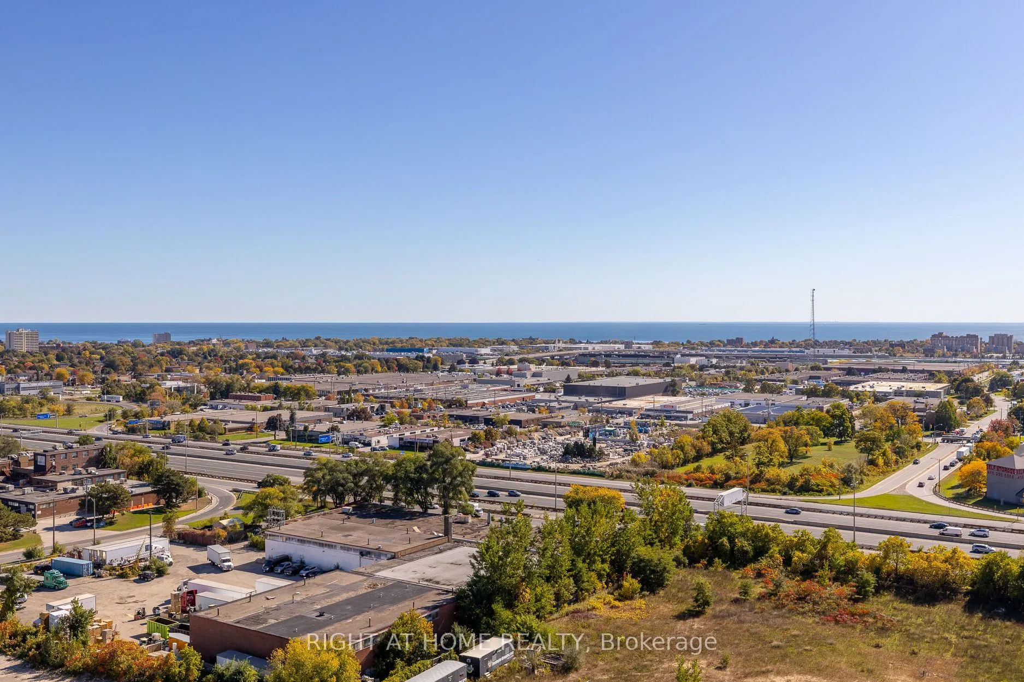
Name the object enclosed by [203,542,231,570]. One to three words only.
truck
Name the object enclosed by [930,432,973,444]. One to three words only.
vehicle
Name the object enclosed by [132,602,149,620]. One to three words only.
work vehicle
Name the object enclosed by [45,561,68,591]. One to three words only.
truck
